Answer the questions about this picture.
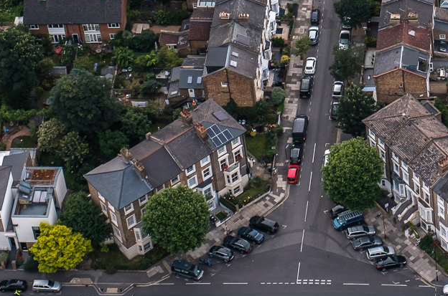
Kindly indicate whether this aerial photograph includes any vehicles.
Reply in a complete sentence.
Yes, there's a vehicle here.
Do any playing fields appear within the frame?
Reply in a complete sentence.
No, this view has no playing field in it.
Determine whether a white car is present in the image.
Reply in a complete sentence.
Yes, there's a white car down there.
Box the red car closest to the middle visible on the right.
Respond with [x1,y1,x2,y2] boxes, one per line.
[284,164,302,184]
